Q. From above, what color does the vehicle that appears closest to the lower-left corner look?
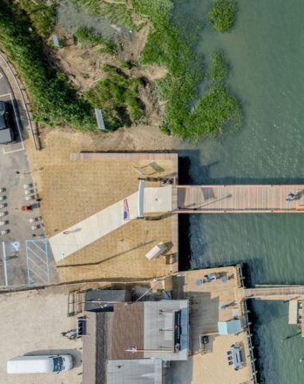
white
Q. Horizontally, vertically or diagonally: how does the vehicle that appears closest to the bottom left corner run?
horizontally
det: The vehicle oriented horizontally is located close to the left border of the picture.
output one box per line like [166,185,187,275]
[4,352,74,375]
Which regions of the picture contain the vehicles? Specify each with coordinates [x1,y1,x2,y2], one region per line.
[61,331,78,338]
[0,96,18,149]
[4,352,74,375]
